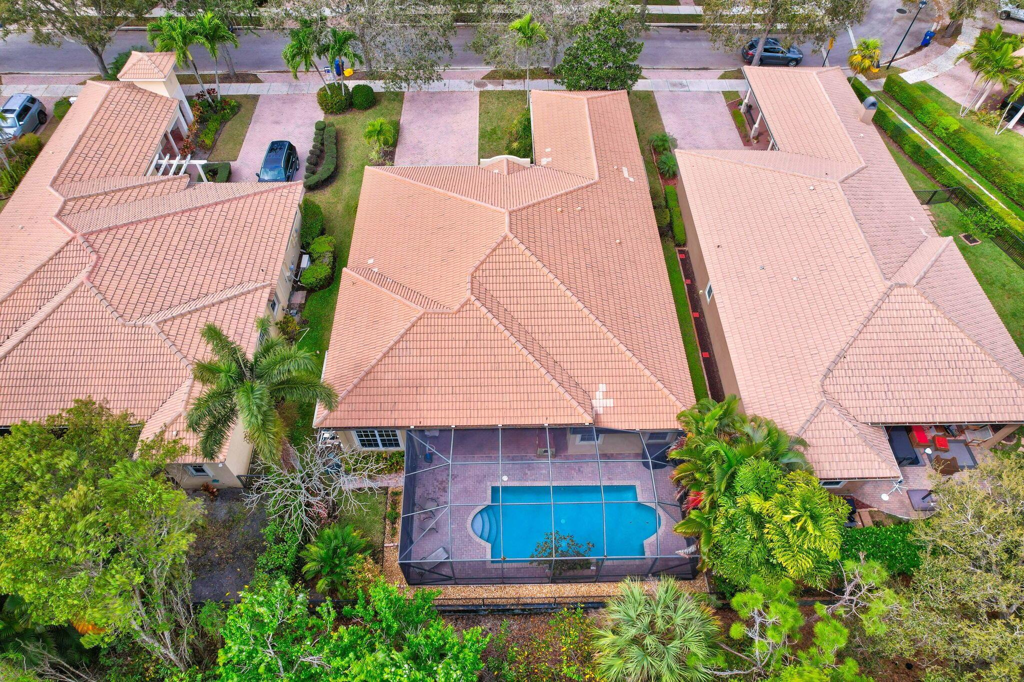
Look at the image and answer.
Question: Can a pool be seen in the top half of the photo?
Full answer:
No, looking in the top half of the photo, there is no pool.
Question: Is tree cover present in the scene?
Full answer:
Yes, tree cover can be seen from above here.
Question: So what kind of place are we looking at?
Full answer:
This image shows a residential area.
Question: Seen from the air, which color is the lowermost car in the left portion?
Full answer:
The lowermost car in the left portion is blue.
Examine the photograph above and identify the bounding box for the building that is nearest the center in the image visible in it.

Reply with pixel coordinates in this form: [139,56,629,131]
[309,88,703,454]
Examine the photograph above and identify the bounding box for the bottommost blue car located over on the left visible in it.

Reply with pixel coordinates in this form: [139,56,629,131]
[247,136,297,182]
